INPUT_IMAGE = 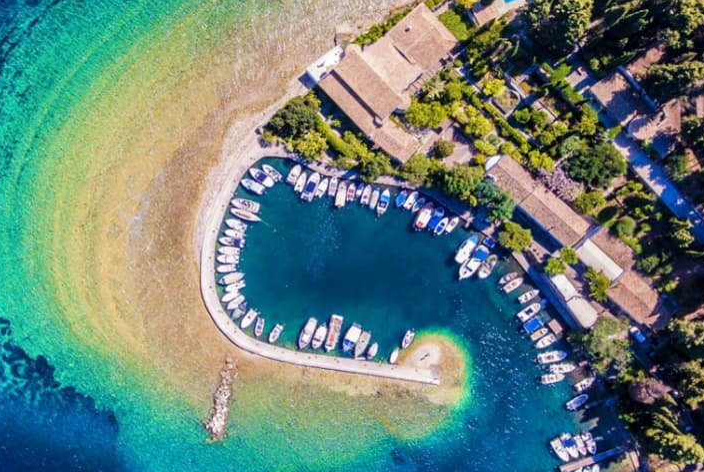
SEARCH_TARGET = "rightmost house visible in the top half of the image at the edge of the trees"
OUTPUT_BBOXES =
[626,102,682,159]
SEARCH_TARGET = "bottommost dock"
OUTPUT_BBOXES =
[559,443,625,472]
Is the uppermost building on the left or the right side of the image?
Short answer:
right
